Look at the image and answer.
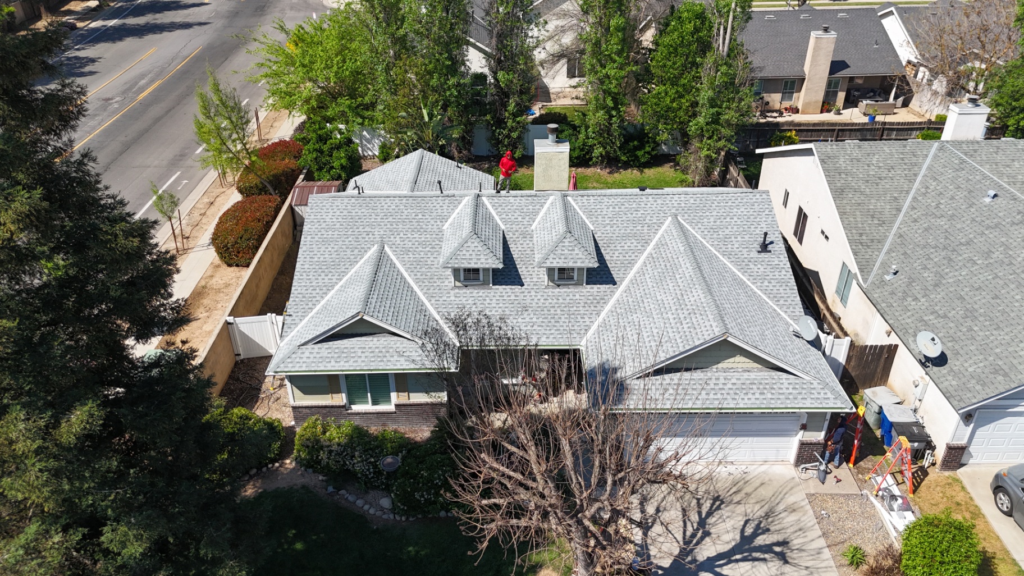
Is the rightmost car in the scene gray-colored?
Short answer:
Yes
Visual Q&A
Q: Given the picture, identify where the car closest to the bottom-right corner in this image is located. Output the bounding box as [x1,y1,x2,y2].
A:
[992,473,1024,537]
